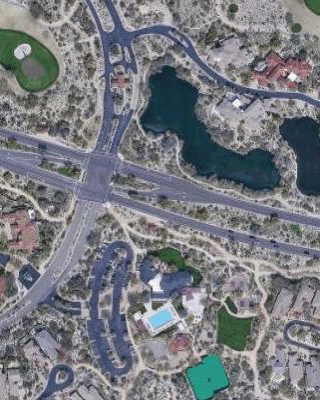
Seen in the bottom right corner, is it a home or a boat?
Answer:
home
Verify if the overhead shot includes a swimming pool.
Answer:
Yes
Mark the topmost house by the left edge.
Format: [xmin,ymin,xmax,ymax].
[4,207,38,251]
